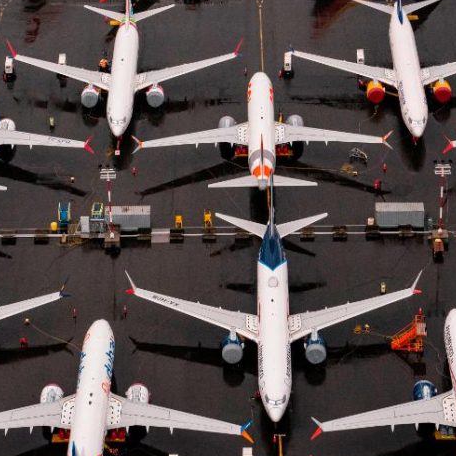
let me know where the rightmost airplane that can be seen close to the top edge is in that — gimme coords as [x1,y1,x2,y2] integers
[285,0,456,137]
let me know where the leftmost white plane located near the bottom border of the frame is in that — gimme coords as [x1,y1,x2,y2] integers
[0,319,252,456]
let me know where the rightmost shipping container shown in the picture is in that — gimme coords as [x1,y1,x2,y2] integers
[375,200,426,227]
